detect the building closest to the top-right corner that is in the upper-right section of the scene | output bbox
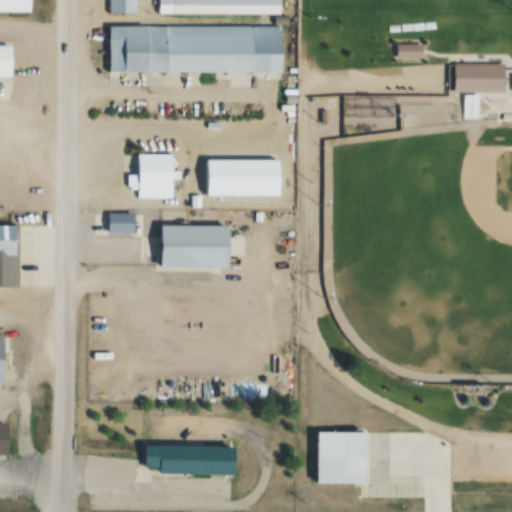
[454,64,507,92]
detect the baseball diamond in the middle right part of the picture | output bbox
[323,121,512,383]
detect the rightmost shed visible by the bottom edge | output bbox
[316,429,368,486]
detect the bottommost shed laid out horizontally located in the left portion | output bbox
[145,442,237,474]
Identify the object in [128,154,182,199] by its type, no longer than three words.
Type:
shed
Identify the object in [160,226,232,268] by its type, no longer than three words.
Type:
shed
